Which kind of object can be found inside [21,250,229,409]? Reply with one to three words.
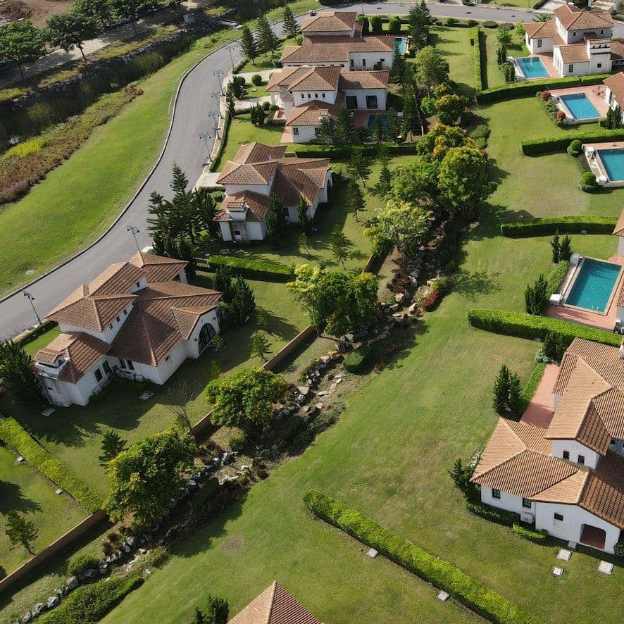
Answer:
house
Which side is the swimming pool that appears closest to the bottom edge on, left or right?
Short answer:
right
